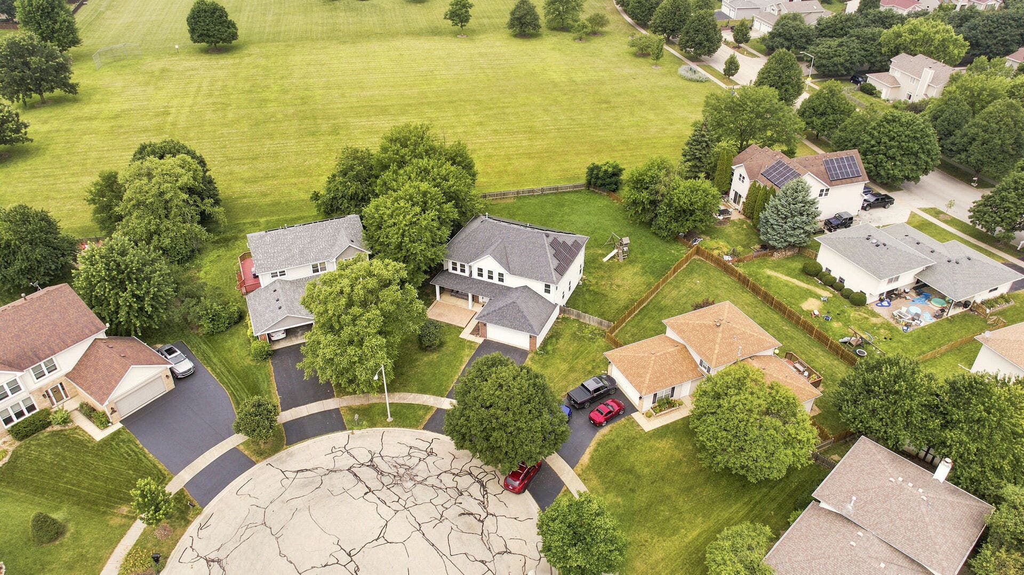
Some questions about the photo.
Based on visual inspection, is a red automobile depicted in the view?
Yes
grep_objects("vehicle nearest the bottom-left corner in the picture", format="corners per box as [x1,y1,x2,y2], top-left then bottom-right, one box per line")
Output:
[157,346,190,375]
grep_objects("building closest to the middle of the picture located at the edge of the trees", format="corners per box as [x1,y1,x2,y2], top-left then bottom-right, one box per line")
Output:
[429,213,589,351]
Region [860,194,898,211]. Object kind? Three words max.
vehicle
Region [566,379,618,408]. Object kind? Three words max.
truck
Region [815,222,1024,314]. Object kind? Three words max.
house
